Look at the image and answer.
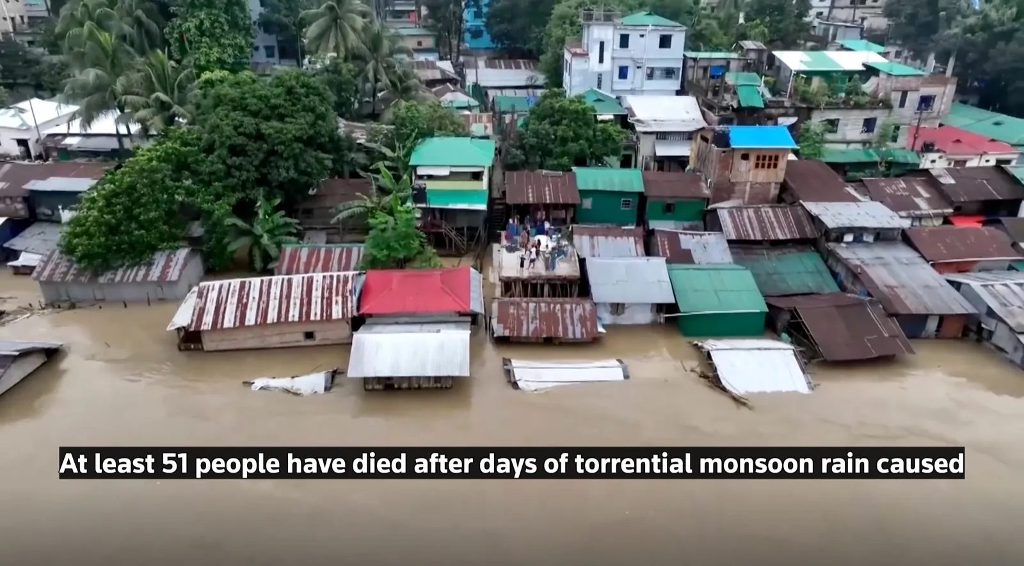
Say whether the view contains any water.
Yes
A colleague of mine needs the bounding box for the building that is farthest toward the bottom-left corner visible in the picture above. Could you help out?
[0,335,62,387]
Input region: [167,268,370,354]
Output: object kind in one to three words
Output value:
house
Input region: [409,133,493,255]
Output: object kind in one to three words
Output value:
house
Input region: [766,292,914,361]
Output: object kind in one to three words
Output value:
building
